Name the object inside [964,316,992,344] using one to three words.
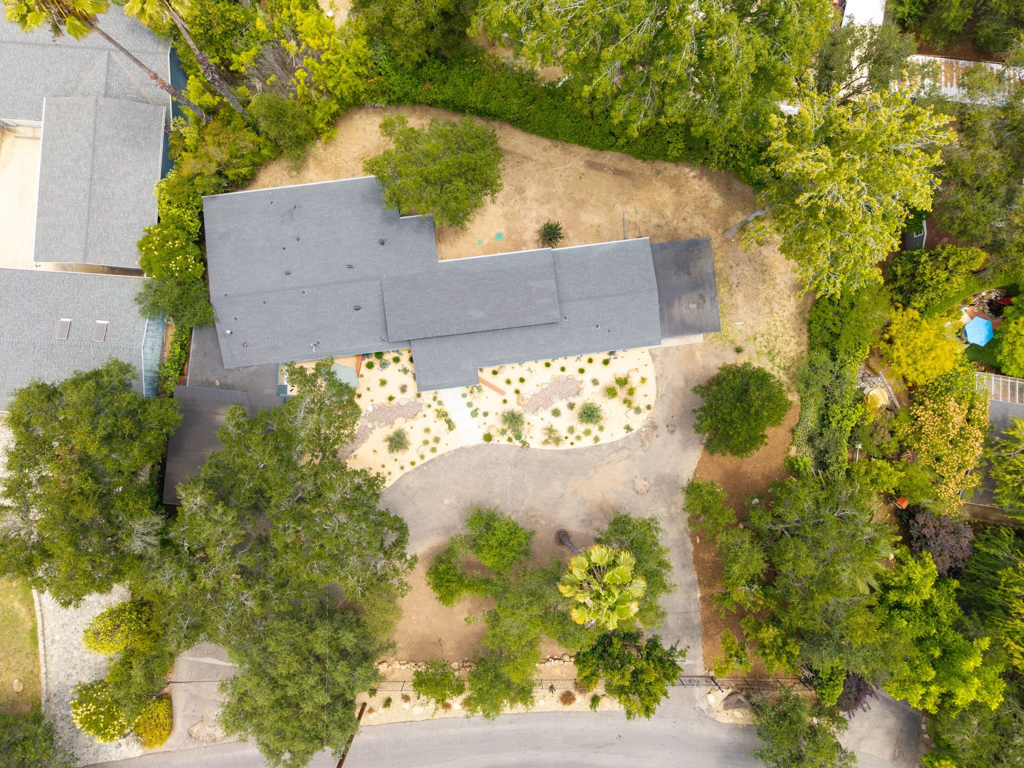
umbrella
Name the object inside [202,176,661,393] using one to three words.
house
